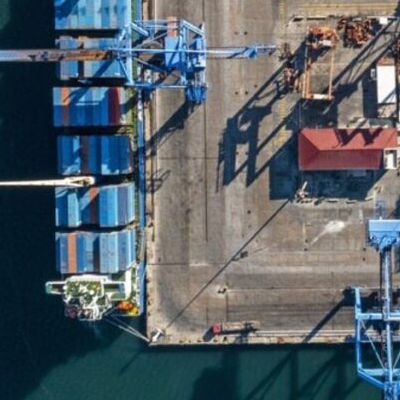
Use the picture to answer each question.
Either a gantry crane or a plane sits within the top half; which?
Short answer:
gantry crane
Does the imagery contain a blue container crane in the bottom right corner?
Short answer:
Yes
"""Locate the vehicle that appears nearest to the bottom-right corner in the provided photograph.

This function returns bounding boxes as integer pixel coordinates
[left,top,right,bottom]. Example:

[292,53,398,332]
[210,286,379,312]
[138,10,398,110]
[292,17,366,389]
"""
[212,321,259,334]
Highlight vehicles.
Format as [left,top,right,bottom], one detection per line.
[212,321,259,334]
[371,68,376,80]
